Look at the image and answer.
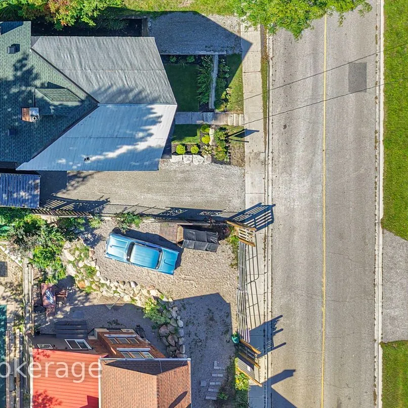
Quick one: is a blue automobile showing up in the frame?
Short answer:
Yes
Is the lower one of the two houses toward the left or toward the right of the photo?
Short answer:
left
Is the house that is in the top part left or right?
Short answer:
left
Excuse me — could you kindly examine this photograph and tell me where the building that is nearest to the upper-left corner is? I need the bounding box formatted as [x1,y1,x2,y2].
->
[0,20,180,172]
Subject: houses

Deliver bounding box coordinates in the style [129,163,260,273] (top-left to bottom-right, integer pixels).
[28,322,192,408]
[0,20,180,172]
